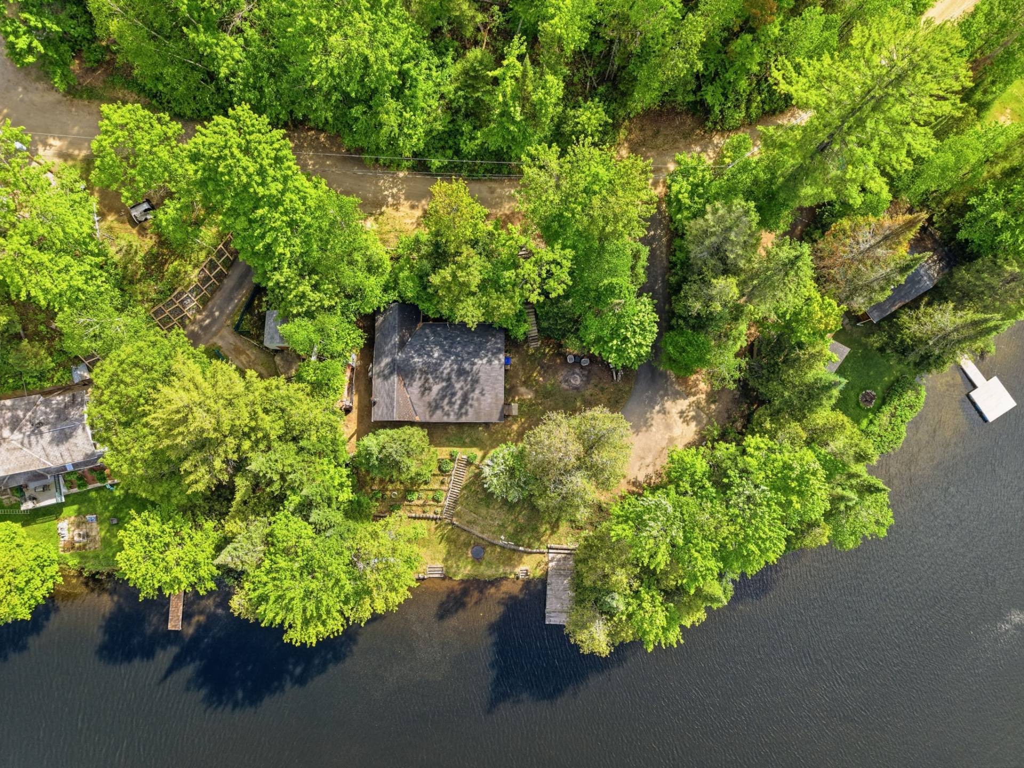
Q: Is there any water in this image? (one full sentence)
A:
Yes, some water is visible.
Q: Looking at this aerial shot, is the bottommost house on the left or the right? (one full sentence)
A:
The bottommost house sits on the left side.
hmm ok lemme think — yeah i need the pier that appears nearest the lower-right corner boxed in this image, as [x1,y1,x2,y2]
[968,376,1016,422]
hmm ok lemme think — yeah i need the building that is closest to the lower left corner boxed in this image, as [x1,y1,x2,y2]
[0,390,103,490]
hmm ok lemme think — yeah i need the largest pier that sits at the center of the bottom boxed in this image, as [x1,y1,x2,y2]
[543,556,574,625]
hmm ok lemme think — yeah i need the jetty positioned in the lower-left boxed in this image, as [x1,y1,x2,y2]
[168,581,186,631]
